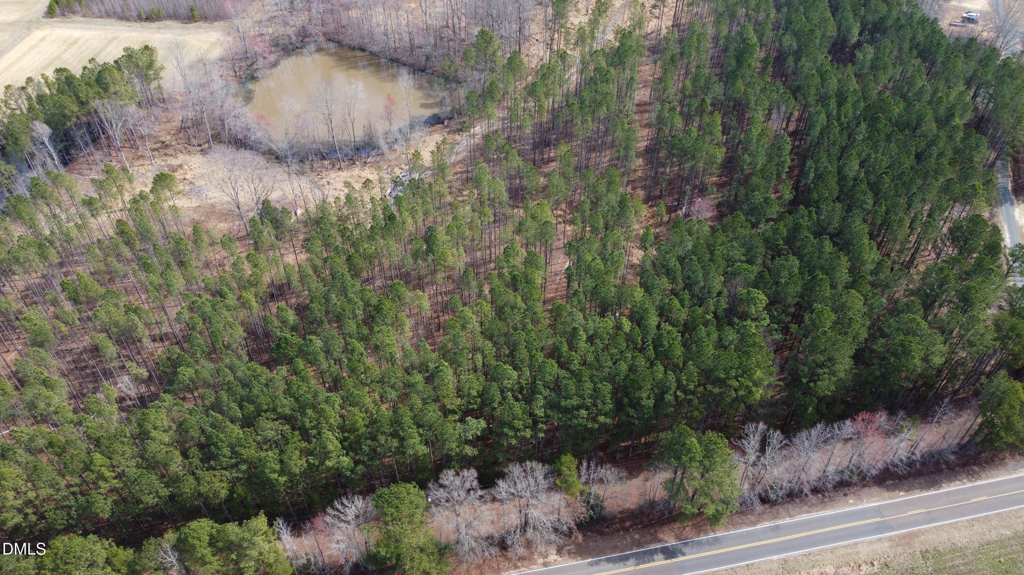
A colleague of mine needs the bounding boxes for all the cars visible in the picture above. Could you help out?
[963,13,982,21]
[963,8,977,15]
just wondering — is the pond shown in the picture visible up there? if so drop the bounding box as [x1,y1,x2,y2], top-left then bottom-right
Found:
[243,44,454,165]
